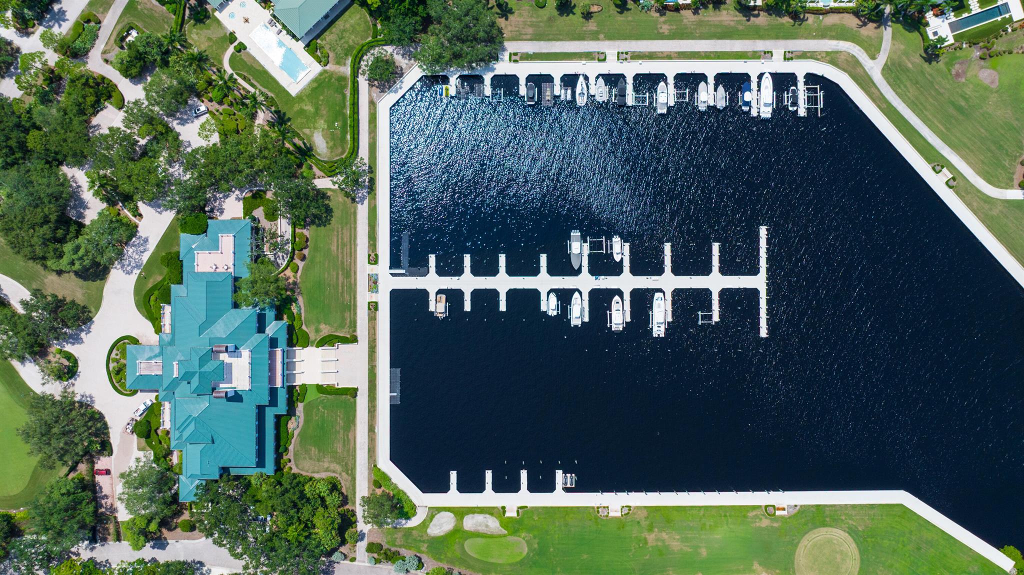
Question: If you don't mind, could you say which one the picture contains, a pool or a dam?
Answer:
pool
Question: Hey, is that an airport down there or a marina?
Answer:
marina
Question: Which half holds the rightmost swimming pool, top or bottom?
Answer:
top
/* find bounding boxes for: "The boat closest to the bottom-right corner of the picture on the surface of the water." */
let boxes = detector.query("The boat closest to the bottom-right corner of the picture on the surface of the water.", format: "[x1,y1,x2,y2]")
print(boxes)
[653,293,665,337]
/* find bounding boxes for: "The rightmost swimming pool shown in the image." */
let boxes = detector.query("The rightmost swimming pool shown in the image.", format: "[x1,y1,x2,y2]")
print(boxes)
[949,1,1012,34]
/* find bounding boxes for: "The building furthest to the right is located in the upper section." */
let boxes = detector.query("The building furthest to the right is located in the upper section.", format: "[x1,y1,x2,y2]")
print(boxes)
[275,0,349,43]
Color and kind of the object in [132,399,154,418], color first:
white vehicle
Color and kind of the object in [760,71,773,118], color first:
white boat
